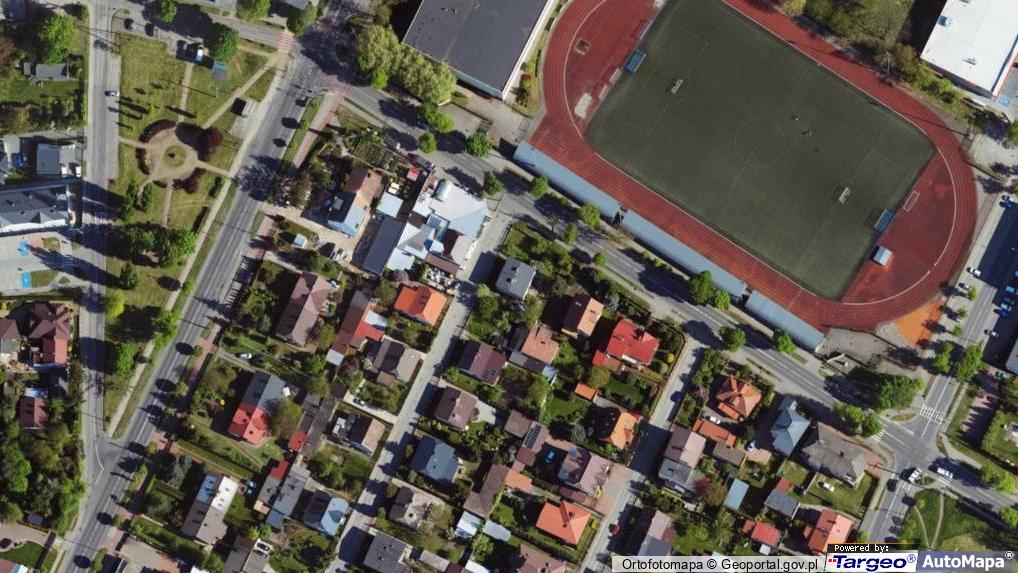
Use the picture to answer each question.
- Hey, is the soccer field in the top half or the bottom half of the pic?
top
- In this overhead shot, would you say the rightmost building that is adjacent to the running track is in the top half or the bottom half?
top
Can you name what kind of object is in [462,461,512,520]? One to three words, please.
house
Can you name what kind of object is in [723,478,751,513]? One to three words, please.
shed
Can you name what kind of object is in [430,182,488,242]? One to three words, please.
building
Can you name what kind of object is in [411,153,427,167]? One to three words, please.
vehicle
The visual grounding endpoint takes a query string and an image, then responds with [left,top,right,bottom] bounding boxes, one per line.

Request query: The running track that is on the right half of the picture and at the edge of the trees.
[518,0,976,332]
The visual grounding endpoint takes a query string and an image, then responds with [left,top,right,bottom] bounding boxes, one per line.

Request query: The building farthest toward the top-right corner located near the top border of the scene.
[922,0,1018,101]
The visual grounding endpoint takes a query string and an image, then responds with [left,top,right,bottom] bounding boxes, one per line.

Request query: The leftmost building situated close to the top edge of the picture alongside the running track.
[404,0,556,99]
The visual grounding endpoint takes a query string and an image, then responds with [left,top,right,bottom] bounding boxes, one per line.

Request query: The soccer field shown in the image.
[584,0,935,300]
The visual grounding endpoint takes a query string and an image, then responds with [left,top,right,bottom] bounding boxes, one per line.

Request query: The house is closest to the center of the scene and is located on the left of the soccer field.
[496,259,537,302]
